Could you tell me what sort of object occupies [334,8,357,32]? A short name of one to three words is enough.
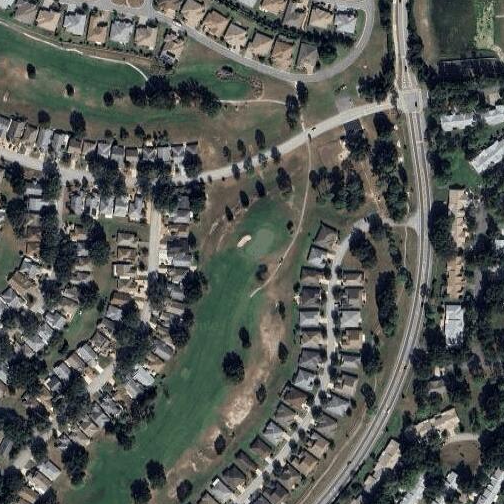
house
